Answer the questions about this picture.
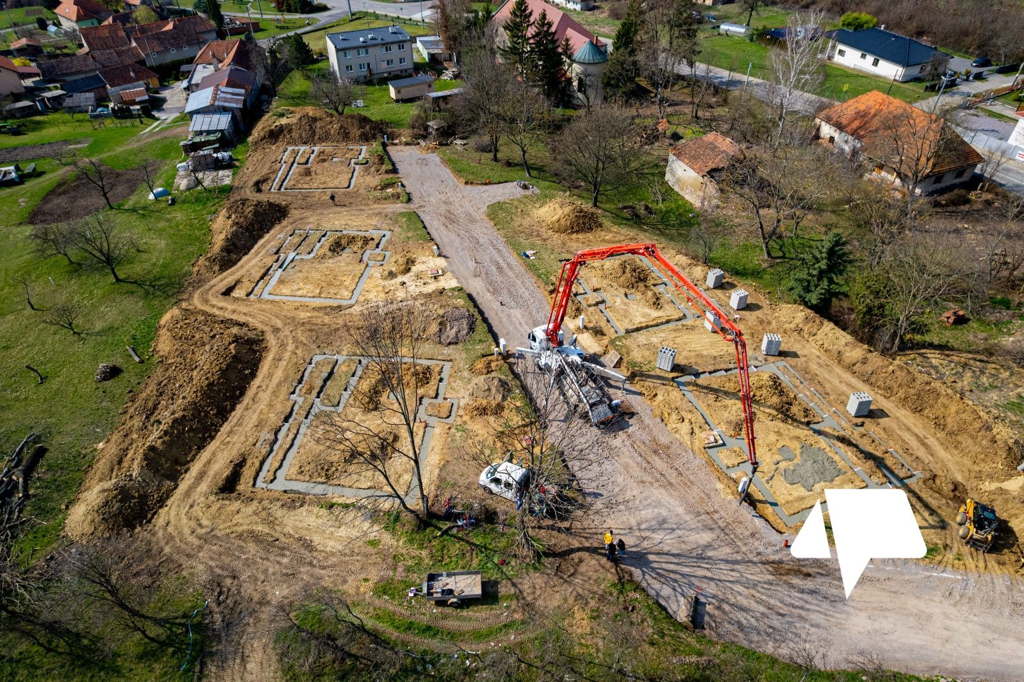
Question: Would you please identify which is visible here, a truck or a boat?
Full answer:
Visible in the photo is a truck.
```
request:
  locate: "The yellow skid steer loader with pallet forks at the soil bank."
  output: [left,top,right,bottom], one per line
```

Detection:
[962,490,1005,557]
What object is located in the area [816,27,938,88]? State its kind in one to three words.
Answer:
house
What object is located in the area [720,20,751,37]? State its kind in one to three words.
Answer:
shed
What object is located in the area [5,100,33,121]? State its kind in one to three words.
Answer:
shed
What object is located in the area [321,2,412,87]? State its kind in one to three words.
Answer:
building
